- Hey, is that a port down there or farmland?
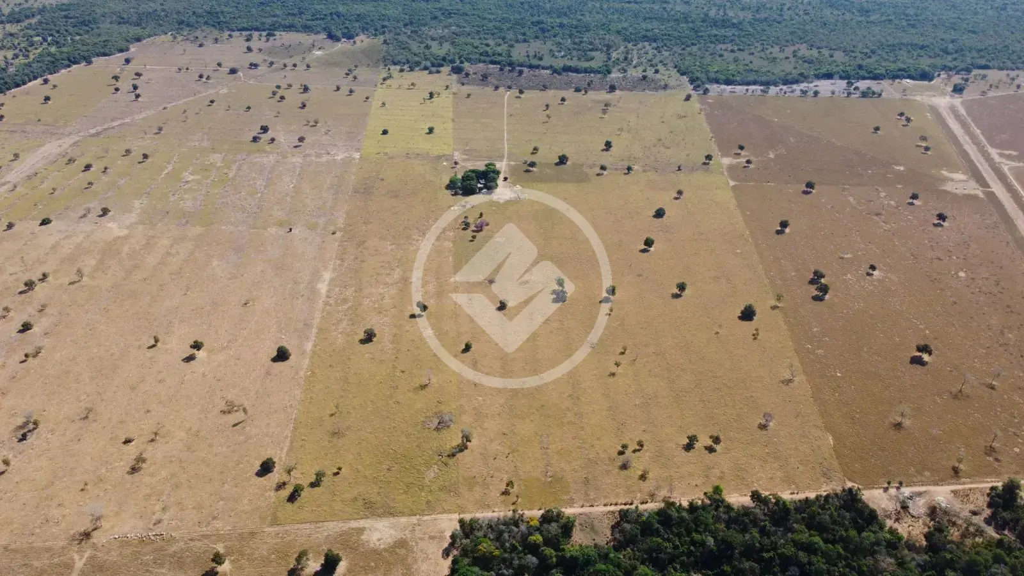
farmland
